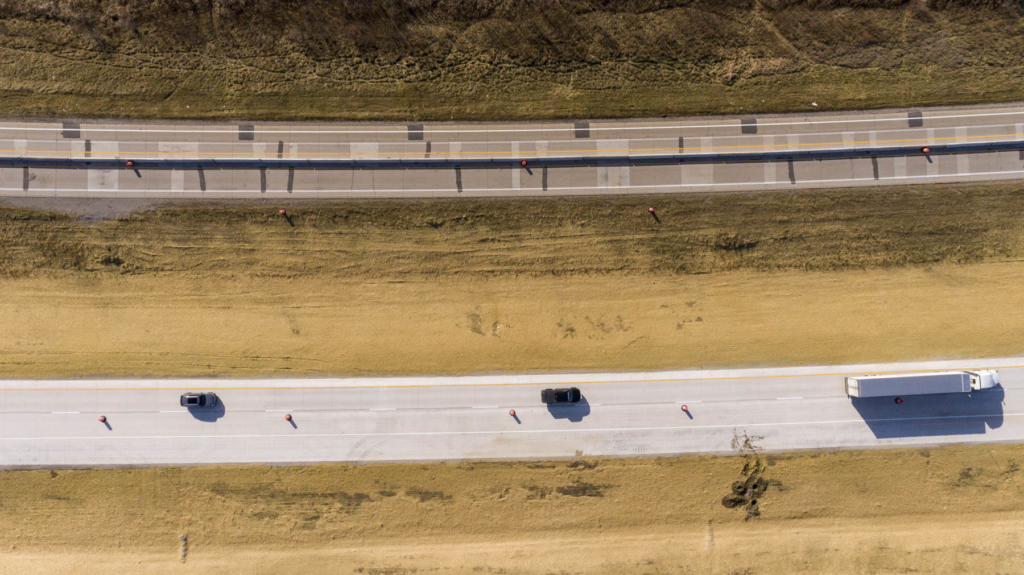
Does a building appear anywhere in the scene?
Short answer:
No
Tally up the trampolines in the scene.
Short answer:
none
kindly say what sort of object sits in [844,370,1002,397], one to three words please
truck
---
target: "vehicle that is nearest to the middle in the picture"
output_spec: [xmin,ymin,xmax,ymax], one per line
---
[540,387,581,404]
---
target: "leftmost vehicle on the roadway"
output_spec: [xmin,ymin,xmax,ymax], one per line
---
[179,392,217,408]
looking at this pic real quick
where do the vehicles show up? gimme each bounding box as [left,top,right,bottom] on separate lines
[179,392,217,408]
[844,370,1002,397]
[540,387,581,404]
